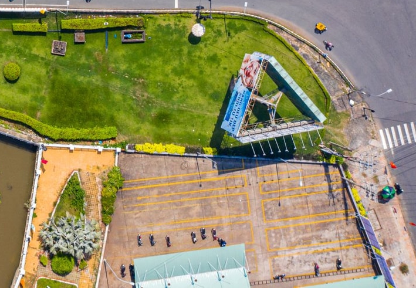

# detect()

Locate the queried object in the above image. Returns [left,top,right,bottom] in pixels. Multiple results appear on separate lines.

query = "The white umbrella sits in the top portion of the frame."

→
[190,23,206,36]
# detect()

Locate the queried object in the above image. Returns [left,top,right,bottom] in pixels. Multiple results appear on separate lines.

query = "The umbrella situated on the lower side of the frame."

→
[381,186,395,199]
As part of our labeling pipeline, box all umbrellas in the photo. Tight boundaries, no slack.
[381,186,395,199]
[190,23,206,36]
